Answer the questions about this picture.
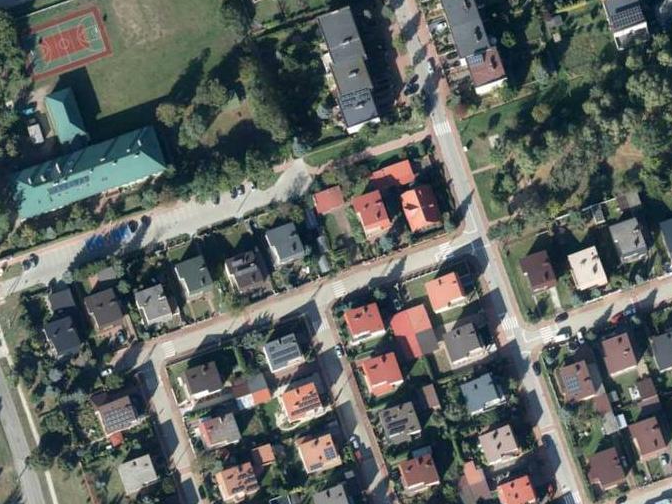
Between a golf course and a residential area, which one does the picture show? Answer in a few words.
residential area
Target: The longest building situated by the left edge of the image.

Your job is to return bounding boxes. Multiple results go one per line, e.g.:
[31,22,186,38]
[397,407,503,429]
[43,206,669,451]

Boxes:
[12,130,165,218]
